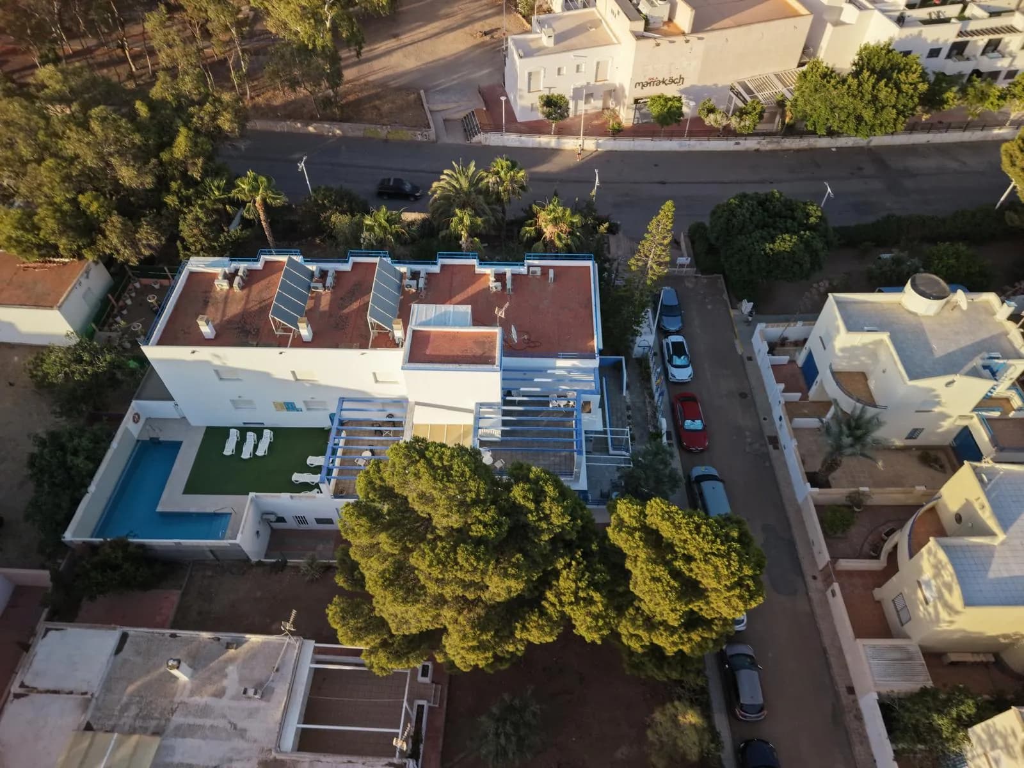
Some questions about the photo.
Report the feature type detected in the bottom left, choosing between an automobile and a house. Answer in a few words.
house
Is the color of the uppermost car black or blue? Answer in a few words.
black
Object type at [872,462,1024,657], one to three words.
house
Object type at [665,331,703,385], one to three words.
car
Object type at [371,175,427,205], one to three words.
car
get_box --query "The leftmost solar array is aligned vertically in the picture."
[268,256,315,346]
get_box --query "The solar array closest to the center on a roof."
[368,256,403,349]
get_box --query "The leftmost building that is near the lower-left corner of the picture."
[0,623,301,768]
